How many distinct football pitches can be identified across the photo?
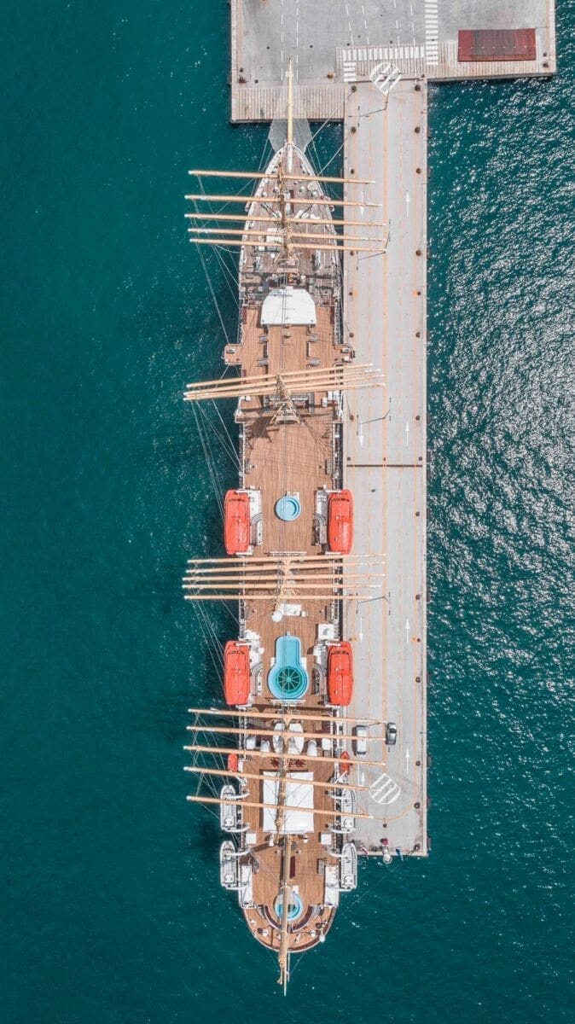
zero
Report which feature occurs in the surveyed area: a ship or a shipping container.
ship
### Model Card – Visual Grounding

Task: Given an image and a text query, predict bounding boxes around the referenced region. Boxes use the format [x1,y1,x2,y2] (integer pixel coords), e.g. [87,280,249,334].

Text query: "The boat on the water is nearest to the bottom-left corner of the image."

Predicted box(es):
[219,841,235,892]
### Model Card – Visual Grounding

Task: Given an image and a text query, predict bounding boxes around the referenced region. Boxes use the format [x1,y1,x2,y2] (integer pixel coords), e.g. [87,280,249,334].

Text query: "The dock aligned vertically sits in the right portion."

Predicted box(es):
[343,62,431,856]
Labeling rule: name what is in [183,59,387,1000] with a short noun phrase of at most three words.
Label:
ship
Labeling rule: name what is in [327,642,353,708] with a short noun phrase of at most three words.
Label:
boat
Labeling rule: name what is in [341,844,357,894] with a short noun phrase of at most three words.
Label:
boat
